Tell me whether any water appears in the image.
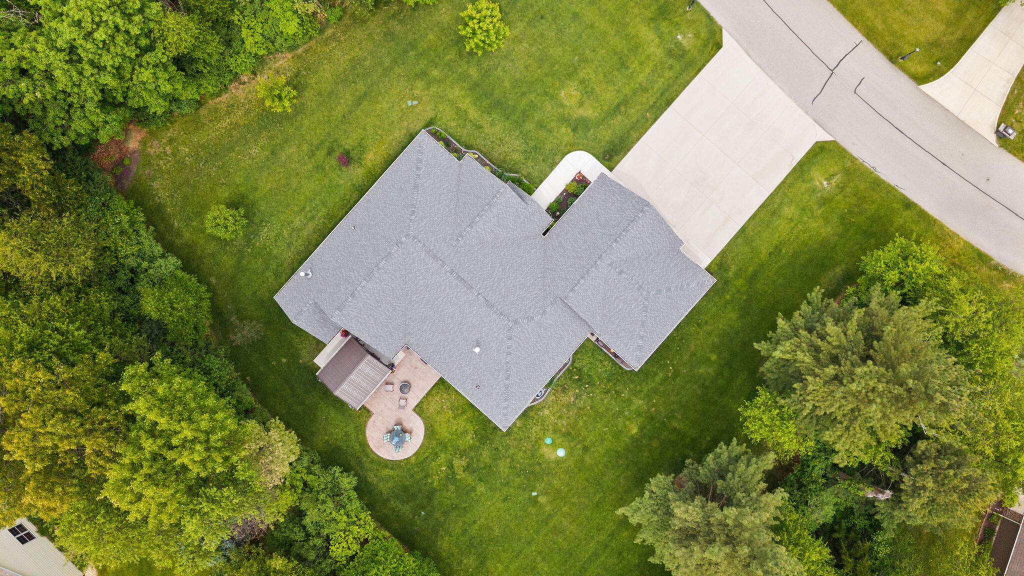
No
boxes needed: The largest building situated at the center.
[273,130,718,432]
